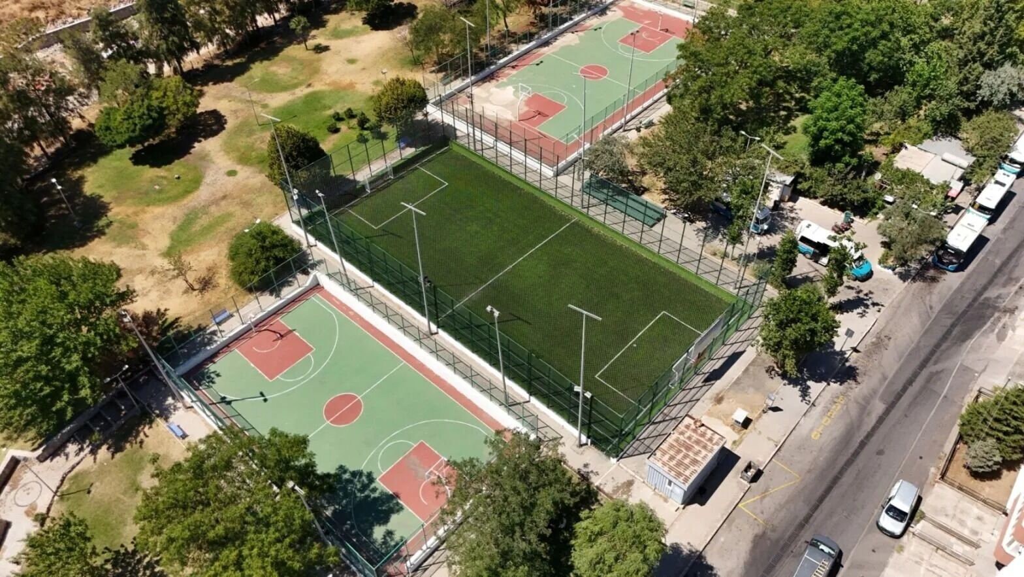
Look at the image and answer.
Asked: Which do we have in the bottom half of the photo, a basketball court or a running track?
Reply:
basketball court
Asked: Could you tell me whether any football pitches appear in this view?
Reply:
Yes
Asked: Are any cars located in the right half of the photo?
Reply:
Yes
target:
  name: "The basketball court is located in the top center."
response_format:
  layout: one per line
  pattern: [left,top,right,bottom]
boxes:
[435,2,707,167]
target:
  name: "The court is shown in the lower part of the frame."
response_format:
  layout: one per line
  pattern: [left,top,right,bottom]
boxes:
[191,284,530,577]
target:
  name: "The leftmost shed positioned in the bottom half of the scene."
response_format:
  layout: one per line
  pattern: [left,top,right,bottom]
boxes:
[648,413,727,501]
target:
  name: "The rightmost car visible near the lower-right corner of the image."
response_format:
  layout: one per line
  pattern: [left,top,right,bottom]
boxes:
[876,477,928,536]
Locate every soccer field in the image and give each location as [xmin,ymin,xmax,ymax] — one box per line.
[298,137,760,464]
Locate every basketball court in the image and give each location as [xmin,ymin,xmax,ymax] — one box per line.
[191,284,530,577]
[435,2,707,167]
